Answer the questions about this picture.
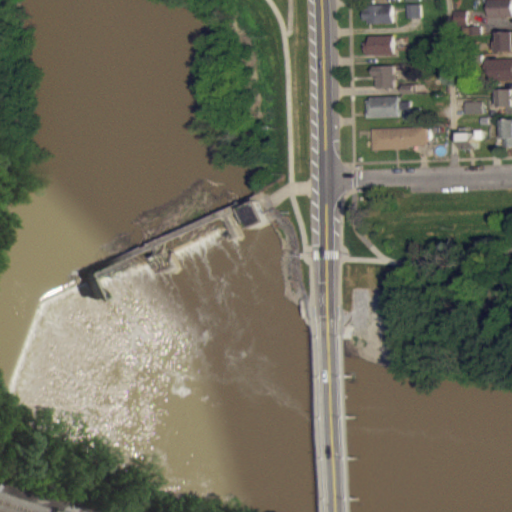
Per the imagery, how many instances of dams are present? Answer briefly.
two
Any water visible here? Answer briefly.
Yes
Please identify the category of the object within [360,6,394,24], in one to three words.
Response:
house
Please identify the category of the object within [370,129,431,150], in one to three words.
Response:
building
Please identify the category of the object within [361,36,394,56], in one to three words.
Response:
house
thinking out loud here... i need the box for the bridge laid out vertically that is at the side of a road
[300,300,362,512]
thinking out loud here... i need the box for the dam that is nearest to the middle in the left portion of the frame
[80,204,246,300]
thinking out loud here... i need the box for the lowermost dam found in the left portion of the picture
[6,271,80,396]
